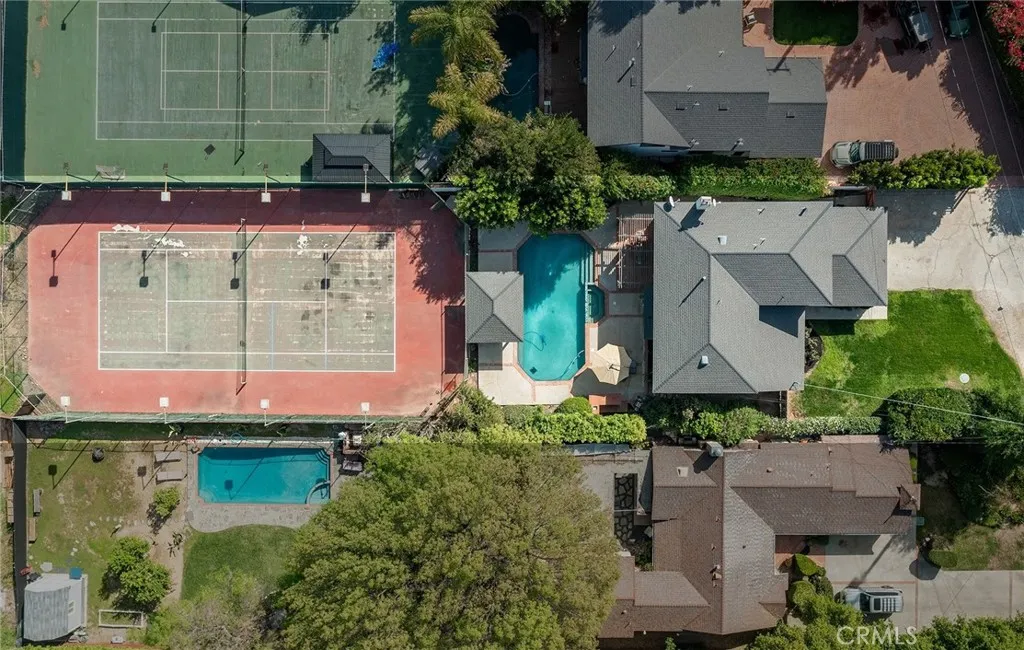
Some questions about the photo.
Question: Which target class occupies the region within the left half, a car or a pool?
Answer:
pool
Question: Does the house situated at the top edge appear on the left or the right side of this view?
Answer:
right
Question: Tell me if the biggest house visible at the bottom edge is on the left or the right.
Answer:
right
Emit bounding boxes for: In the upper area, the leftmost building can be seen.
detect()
[312,133,392,184]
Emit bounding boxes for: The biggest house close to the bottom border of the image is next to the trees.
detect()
[592,438,920,638]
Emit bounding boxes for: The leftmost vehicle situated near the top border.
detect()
[885,0,927,47]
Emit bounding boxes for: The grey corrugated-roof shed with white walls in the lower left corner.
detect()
[24,574,88,640]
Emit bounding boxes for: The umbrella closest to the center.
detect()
[588,342,640,385]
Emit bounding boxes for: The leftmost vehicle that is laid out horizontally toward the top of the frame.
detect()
[828,137,900,169]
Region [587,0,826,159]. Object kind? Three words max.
house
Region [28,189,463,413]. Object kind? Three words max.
tennis court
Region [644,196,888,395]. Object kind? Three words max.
house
